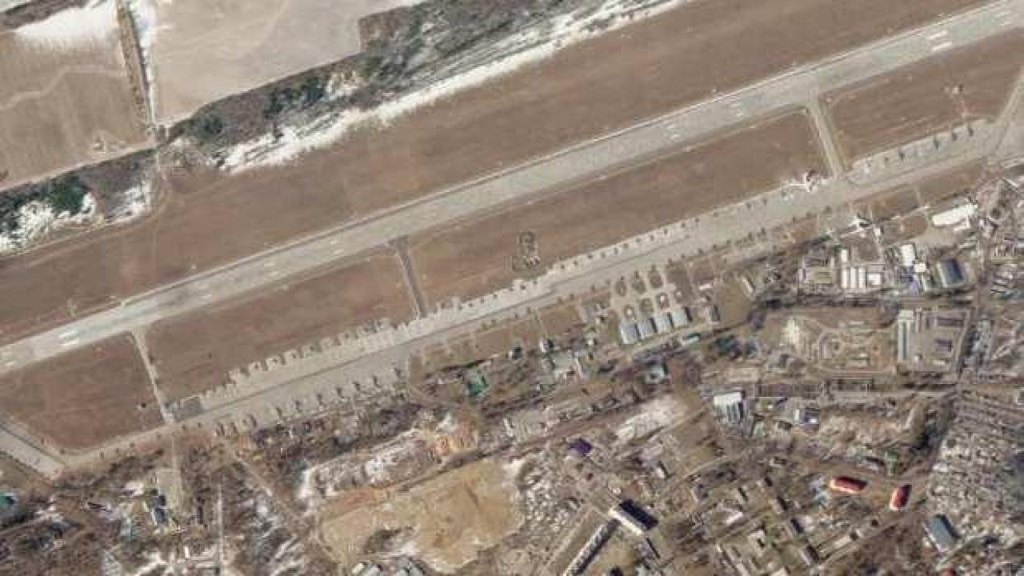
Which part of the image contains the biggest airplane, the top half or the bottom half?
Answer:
top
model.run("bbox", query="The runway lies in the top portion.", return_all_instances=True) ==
[0,0,1024,373]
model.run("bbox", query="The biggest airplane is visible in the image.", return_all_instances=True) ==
[792,170,814,195]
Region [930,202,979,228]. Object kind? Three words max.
hangar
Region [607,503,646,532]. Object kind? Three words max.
building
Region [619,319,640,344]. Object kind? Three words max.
hangar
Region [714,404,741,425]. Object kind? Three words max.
shed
